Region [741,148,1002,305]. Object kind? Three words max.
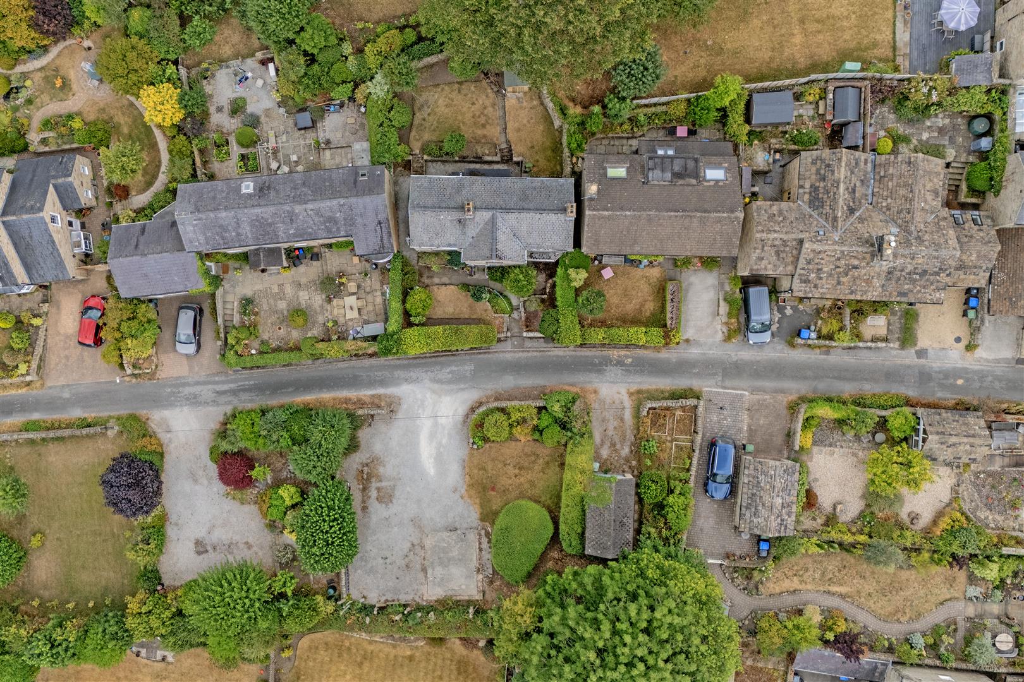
house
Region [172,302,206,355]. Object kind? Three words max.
car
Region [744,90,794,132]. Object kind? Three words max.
shed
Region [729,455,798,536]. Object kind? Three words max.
building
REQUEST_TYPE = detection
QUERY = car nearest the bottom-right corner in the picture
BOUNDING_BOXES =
[705,436,736,499]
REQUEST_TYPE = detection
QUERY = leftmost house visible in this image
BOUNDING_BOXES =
[0,152,105,297]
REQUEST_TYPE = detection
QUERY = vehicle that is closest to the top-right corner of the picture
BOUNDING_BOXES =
[741,285,774,344]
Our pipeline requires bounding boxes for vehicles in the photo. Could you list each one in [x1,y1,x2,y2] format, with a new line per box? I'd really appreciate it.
[705,436,736,499]
[741,285,774,344]
[172,302,206,355]
[76,296,110,348]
